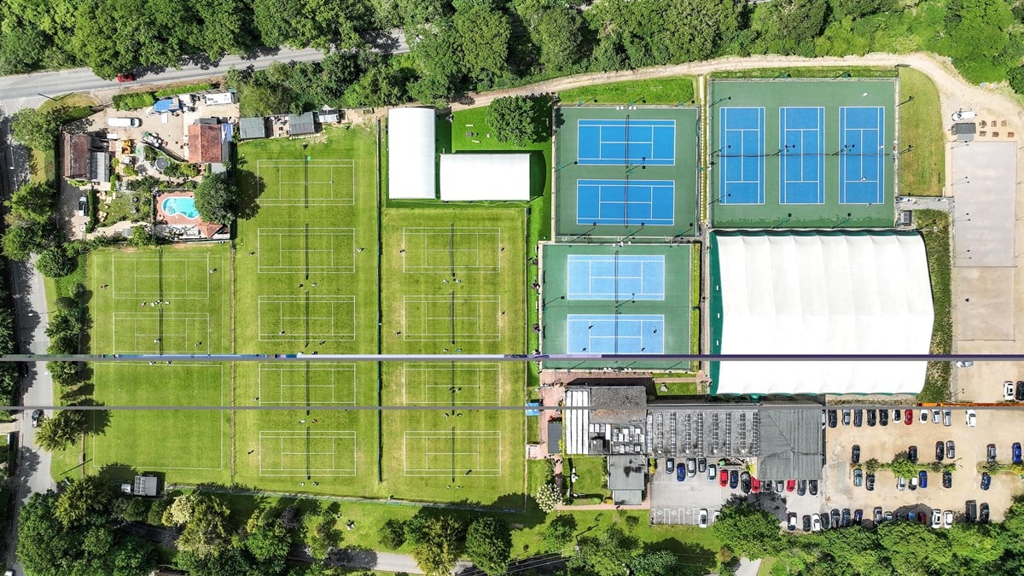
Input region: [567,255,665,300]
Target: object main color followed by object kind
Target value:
blue tennis court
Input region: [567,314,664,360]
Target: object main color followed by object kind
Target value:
blue tennis court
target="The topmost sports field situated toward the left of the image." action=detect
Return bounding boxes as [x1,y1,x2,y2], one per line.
[95,255,223,360]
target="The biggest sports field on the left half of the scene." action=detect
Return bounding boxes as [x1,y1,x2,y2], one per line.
[94,364,222,469]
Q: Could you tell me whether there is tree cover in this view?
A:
Yes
